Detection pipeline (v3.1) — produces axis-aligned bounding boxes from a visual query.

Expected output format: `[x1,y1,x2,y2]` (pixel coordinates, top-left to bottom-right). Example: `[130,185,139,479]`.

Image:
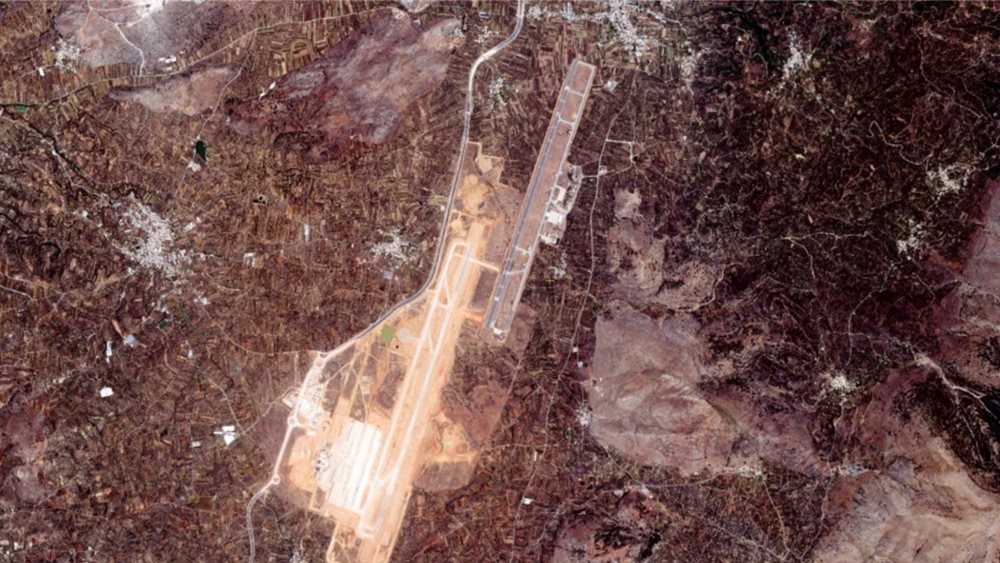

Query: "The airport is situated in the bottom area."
[283,141,528,563]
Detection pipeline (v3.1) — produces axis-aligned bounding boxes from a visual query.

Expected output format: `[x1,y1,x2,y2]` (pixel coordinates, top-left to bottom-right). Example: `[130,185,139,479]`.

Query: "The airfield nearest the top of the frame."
[483,59,600,339]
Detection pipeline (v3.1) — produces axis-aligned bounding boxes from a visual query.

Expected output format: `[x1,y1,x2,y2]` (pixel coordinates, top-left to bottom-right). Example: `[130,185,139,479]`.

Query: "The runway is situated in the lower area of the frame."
[372,245,473,543]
